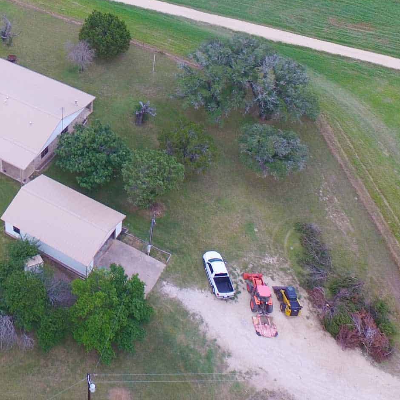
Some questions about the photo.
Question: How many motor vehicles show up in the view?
3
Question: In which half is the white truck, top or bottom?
bottom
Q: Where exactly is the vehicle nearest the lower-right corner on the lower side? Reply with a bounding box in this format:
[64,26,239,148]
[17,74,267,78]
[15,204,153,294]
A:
[272,285,303,315]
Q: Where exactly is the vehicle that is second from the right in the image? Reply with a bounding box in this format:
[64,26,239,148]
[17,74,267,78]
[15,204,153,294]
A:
[243,281,275,320]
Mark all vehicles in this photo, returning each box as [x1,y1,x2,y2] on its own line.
[203,254,238,303]
[272,285,303,315]
[243,281,275,320]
